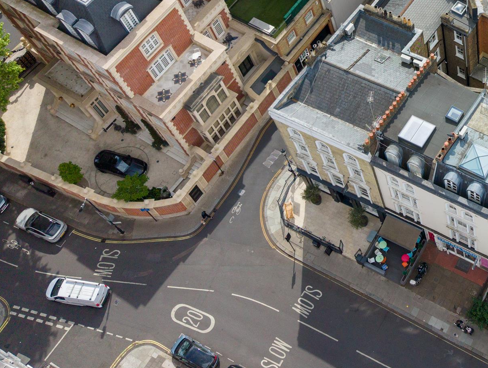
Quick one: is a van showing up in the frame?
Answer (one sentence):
Yes, the photo shows a van.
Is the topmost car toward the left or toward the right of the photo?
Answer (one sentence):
The topmost car appears in the left half of the scene.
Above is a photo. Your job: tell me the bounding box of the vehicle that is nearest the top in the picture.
[92,148,149,177]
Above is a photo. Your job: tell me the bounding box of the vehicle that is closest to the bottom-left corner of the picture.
[44,276,112,311]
